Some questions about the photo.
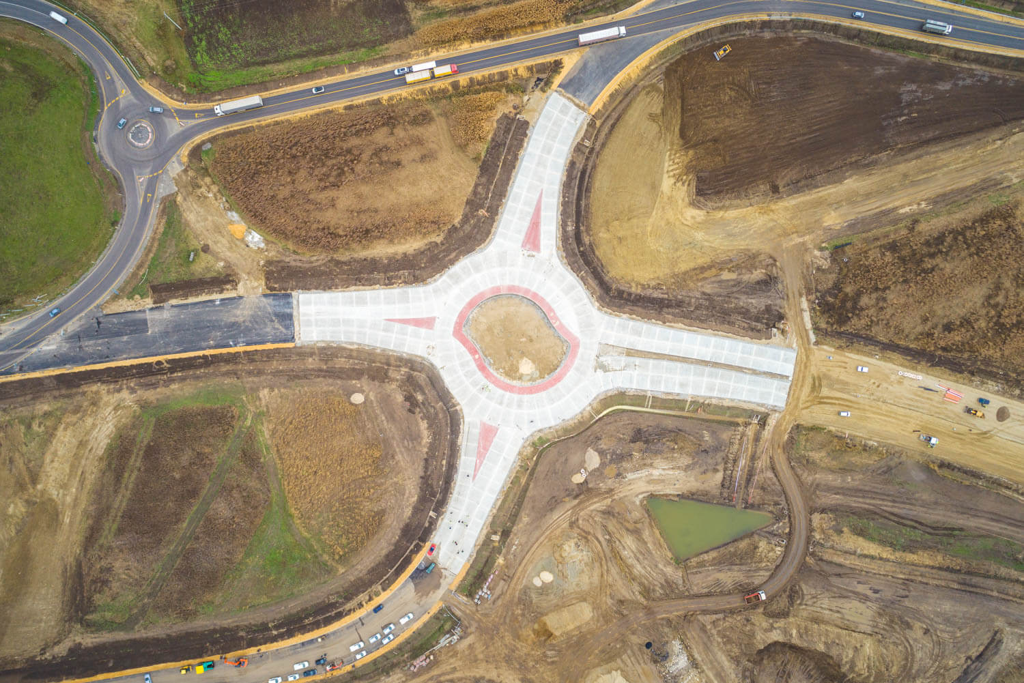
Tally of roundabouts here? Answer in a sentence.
The count of roundabouts comes to 2.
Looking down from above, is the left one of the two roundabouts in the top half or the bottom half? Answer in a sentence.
The left one of the two roundabouts sits in the top half of the picture.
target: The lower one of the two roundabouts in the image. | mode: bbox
[386,190,627,481]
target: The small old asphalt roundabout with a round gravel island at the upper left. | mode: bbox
[99,86,192,179]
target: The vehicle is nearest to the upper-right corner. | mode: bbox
[920,20,952,36]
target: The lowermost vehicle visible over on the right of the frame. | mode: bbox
[744,591,766,605]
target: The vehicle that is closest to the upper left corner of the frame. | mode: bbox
[48,9,71,26]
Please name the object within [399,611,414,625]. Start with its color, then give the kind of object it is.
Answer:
white vehicle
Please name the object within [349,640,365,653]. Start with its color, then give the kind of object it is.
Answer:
white vehicle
